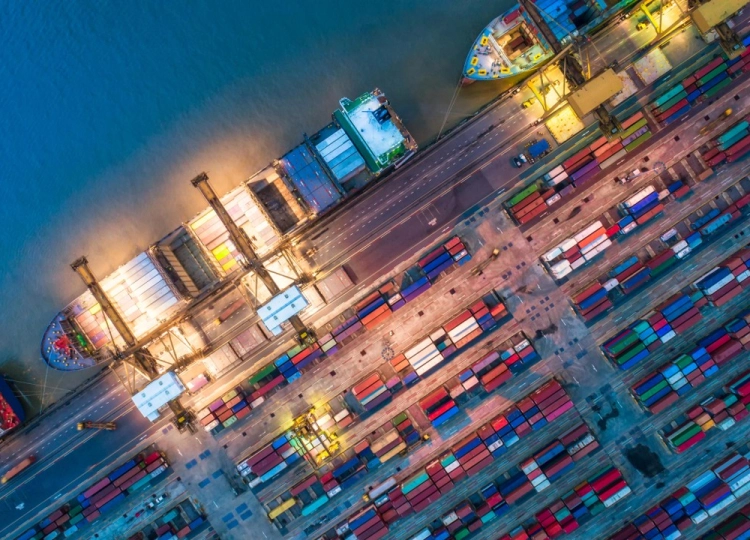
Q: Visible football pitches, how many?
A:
0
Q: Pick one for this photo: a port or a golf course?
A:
port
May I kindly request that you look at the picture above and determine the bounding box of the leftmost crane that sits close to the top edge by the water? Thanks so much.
[508,0,625,133]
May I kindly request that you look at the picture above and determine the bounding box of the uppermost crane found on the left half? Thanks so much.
[192,175,317,342]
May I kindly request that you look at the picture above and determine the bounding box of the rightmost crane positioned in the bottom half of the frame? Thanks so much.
[283,403,336,473]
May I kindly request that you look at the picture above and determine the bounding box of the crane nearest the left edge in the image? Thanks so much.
[69,259,210,427]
